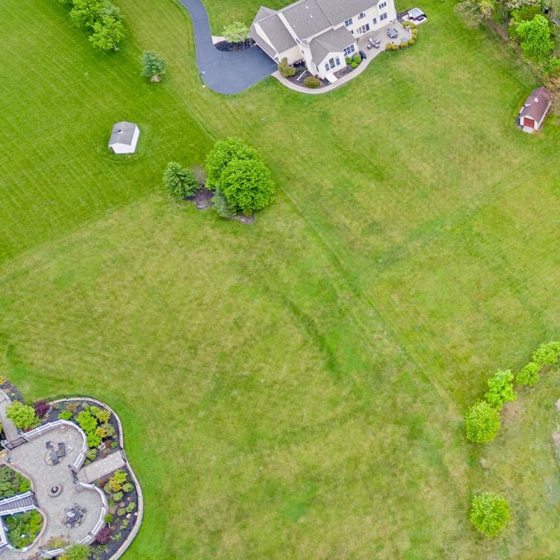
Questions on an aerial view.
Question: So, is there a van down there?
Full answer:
No, no van is visible in the scene.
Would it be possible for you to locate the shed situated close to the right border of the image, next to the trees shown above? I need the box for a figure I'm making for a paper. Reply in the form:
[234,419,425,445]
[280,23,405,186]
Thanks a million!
[520,90,552,134]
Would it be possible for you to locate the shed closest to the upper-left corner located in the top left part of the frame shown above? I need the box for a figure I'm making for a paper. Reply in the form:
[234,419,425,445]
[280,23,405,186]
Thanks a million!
[110,118,143,157]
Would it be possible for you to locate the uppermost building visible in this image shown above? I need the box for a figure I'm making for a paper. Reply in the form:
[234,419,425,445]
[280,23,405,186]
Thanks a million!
[244,0,398,79]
